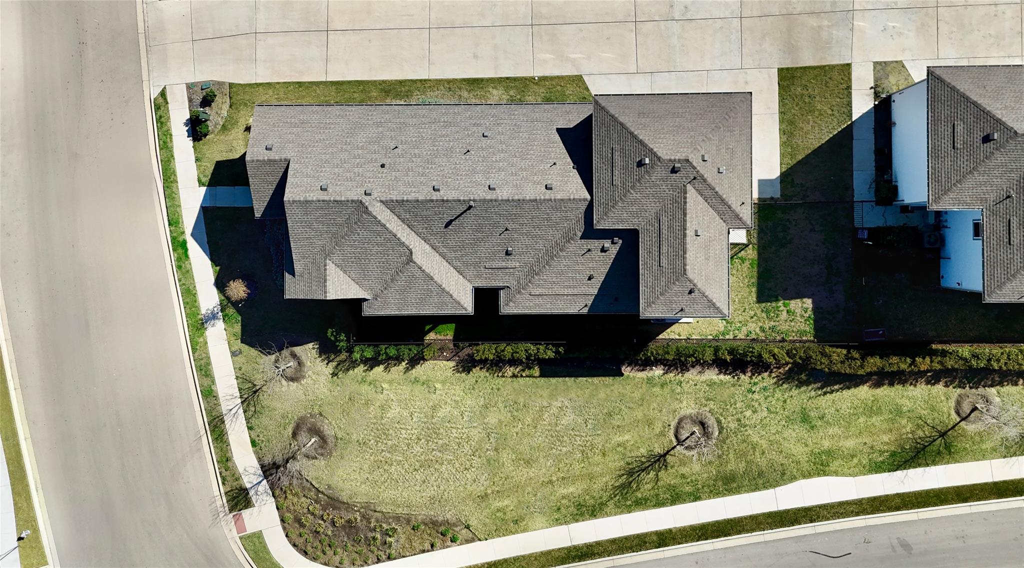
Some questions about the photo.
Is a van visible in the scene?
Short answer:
No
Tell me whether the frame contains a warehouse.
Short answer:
No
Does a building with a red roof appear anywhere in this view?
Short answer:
No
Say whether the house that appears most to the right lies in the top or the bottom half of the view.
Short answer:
top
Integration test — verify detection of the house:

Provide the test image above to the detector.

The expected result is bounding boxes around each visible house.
[889,66,1024,302]
[246,93,753,318]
